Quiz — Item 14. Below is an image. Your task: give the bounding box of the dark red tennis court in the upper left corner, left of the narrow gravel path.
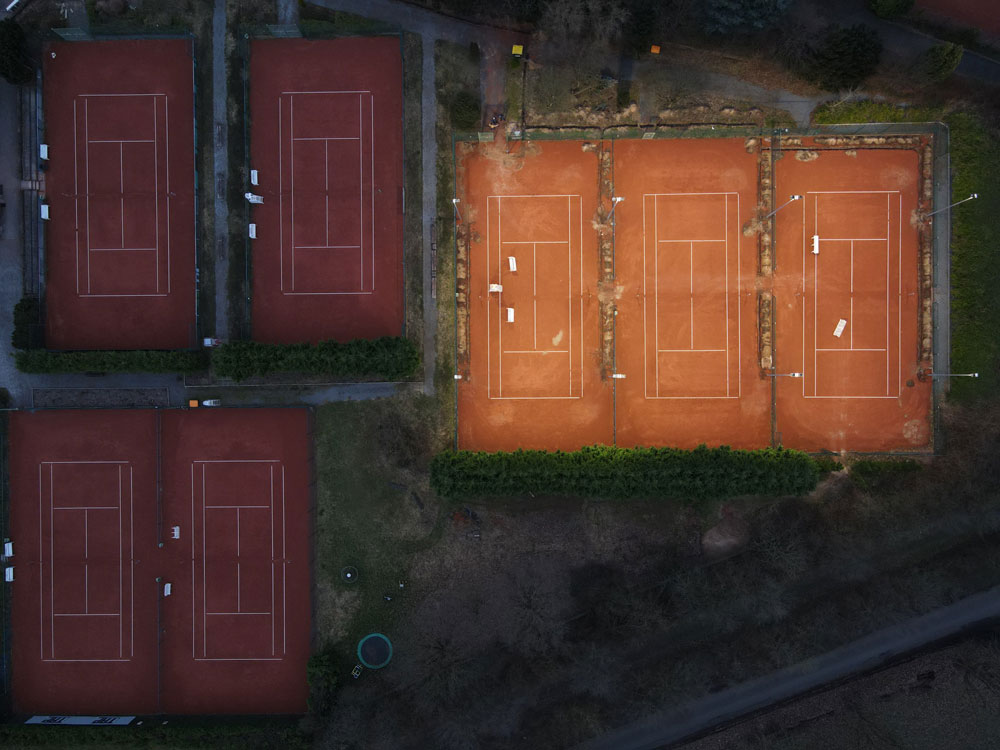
[42,39,197,350]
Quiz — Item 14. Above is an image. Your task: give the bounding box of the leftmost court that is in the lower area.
[9,409,160,714]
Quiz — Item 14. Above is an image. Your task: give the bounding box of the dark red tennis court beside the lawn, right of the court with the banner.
[160,408,310,714]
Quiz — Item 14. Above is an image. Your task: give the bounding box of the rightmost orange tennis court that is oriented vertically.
[776,150,920,452]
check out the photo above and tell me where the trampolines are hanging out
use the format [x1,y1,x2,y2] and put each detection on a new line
[356,634,392,669]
